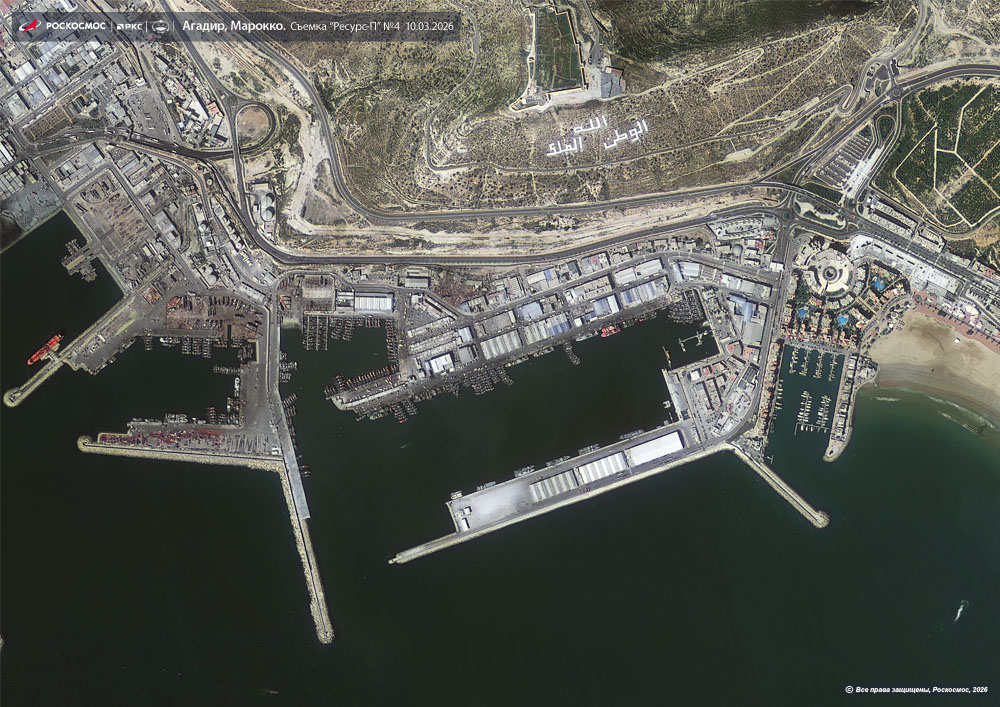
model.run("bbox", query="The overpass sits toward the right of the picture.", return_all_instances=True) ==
[736,181,867,225]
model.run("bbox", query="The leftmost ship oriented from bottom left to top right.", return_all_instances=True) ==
[26,333,64,364]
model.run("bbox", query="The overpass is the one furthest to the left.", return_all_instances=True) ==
[111,132,251,158]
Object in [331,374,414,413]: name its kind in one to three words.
pier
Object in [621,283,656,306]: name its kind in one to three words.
building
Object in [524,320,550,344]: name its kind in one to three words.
building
